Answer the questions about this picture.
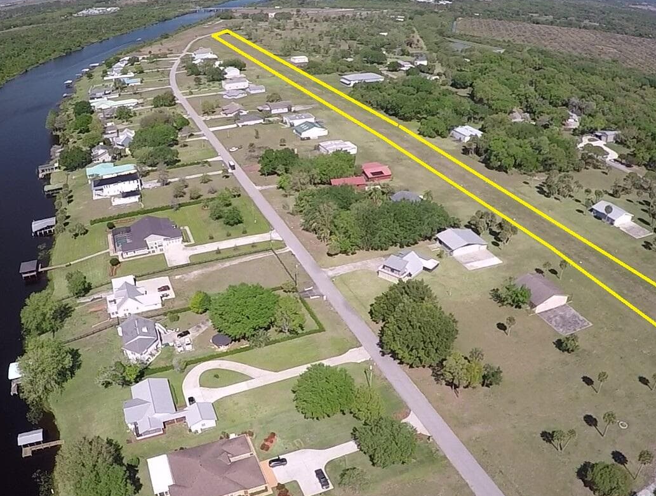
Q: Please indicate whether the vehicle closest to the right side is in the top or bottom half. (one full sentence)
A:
You can find the vehicle closest to the right side in the bottom half.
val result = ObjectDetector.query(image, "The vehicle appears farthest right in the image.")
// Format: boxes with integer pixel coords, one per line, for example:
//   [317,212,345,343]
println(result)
[312,467,332,489]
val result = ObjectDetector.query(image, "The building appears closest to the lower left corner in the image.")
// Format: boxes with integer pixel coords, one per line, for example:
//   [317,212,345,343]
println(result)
[17,428,45,452]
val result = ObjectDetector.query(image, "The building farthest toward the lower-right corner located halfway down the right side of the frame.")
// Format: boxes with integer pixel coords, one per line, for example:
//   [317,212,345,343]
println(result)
[508,274,570,318]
